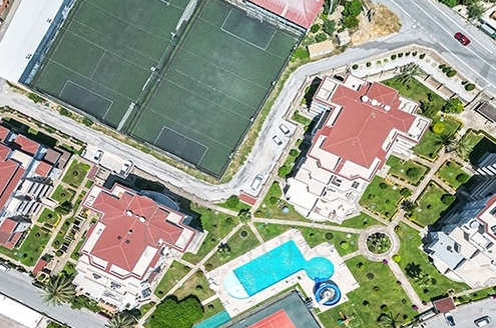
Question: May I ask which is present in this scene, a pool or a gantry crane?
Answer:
pool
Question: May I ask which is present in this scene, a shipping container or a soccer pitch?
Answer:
soccer pitch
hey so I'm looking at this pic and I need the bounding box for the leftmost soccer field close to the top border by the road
[33,0,189,128]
